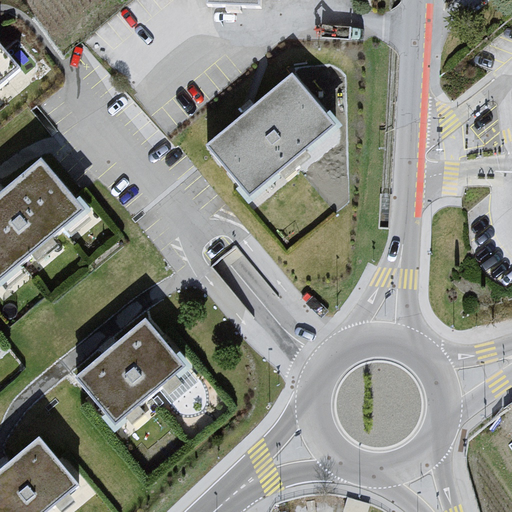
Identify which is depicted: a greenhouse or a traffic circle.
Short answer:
traffic circle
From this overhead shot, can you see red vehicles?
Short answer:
Yes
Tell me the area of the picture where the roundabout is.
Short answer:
bottom right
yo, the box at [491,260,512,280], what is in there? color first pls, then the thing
black car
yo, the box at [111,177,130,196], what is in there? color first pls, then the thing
white car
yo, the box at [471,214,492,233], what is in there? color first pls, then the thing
black car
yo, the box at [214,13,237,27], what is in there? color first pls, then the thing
white car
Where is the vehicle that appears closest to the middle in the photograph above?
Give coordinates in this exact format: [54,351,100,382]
[206,238,226,257]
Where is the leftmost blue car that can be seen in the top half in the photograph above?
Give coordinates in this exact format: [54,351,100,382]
[120,184,138,204]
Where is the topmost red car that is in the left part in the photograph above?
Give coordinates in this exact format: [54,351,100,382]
[120,8,138,28]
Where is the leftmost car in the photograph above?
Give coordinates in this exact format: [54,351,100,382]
[70,45,83,68]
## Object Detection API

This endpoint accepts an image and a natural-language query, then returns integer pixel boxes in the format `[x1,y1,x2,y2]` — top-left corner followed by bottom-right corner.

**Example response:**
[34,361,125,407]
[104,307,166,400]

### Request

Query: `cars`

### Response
[471,214,492,233]
[120,8,138,28]
[214,13,237,27]
[295,326,316,341]
[500,271,512,286]
[176,89,195,113]
[120,184,138,204]
[108,96,128,114]
[482,250,505,269]
[388,239,400,261]
[206,238,226,257]
[475,226,496,246]
[150,144,171,163]
[474,108,494,130]
[70,45,83,68]
[474,54,495,68]
[111,177,130,196]
[166,148,184,166]
[476,240,498,261]
[502,27,512,38]
[135,25,152,45]
[188,84,204,104]
[491,260,512,280]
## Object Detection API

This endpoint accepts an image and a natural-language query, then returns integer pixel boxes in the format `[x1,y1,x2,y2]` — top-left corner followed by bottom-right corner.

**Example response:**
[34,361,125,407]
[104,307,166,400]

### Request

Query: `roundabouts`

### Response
[295,320,464,489]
